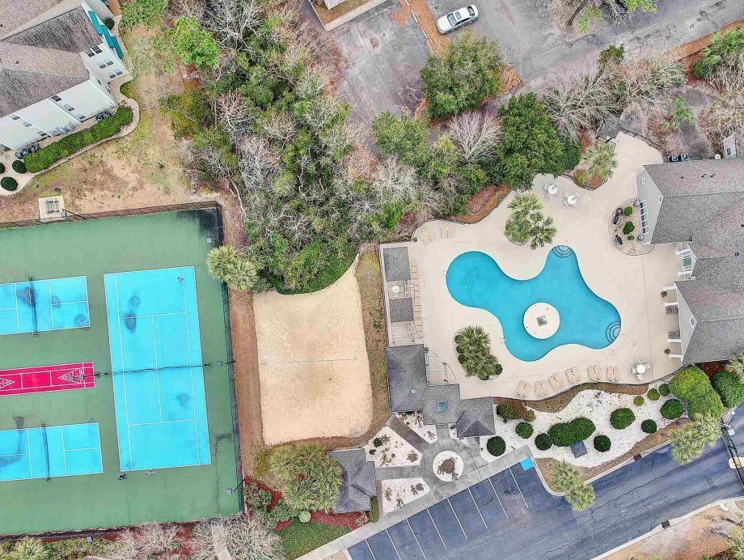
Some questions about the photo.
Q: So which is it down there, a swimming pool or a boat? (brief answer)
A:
swimming pool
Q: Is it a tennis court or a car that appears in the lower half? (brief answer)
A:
tennis court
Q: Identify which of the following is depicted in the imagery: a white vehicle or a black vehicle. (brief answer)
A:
white vehicle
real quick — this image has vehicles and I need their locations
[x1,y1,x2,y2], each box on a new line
[437,1,479,32]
